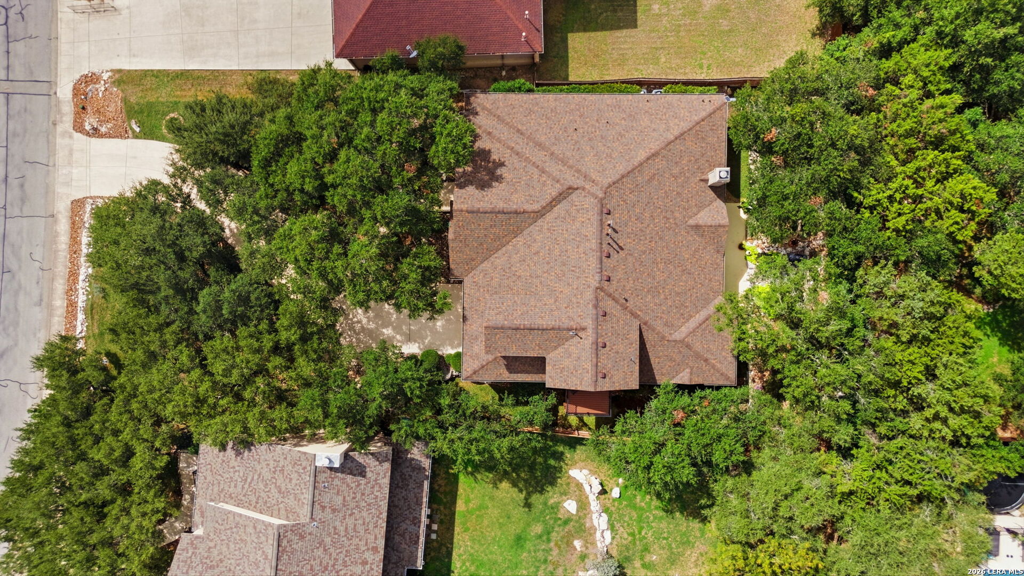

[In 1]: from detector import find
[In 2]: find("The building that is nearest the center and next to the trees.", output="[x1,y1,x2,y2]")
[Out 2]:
[448,92,738,391]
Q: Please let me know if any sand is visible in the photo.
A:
No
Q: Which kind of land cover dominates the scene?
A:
trees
